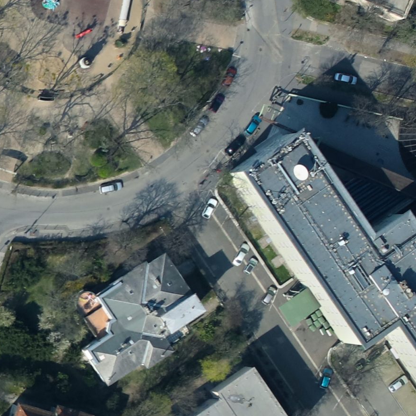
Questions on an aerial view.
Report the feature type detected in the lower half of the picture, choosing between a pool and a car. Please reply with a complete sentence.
The one visible in the lower half of the picture is a car.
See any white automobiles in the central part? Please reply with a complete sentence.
Yes, there is a white automobile in the central part.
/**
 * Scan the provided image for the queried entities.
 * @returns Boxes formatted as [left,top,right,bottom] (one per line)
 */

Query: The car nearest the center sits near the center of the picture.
[199,195,220,221]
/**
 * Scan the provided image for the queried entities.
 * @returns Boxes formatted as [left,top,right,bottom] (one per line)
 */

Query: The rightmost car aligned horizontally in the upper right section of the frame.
[331,71,359,86]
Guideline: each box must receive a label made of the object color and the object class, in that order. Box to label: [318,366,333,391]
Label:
blue car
